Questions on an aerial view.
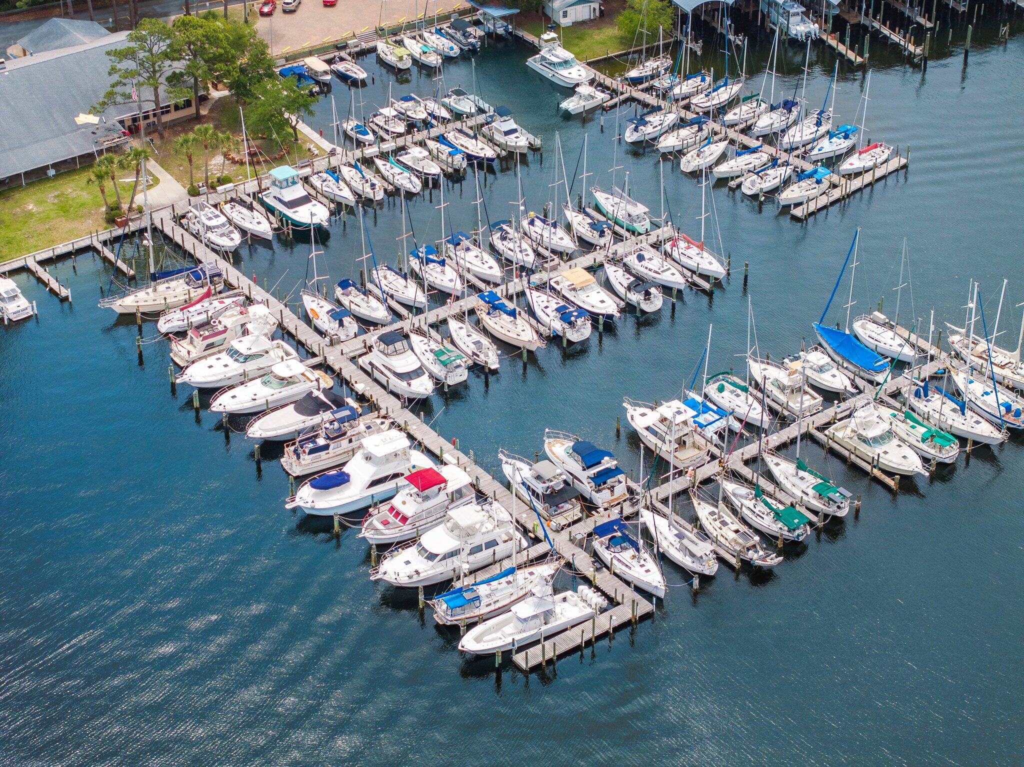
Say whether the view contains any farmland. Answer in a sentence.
No, there is no farmland in the image.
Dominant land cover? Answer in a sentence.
The scene is dominated by water.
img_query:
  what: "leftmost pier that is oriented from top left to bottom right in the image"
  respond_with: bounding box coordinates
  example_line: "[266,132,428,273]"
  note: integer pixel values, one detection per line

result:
[27,257,69,302]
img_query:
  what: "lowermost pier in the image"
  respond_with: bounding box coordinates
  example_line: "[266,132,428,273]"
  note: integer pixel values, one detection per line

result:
[510,606,642,676]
